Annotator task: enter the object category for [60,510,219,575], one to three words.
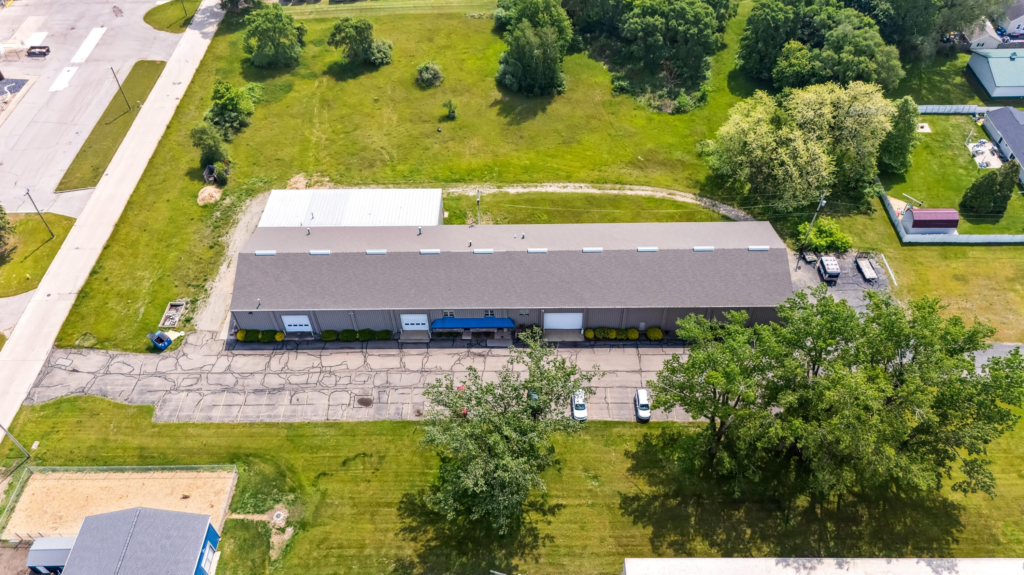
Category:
building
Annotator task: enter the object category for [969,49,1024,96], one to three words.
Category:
barn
